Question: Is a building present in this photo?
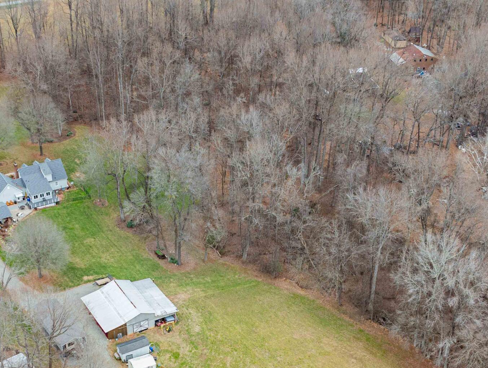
Yes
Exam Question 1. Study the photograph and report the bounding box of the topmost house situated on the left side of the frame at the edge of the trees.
[0,159,69,208]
